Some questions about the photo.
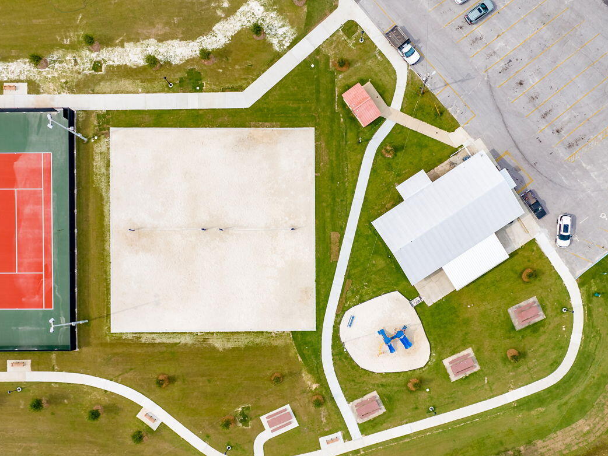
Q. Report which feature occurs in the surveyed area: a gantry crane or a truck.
truck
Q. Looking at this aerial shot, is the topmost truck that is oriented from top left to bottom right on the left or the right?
right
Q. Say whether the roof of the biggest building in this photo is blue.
No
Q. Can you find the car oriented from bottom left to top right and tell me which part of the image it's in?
top right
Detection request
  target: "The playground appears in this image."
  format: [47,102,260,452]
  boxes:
[377,324,413,356]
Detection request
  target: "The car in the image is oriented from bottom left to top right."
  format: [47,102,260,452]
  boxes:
[464,0,495,26]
